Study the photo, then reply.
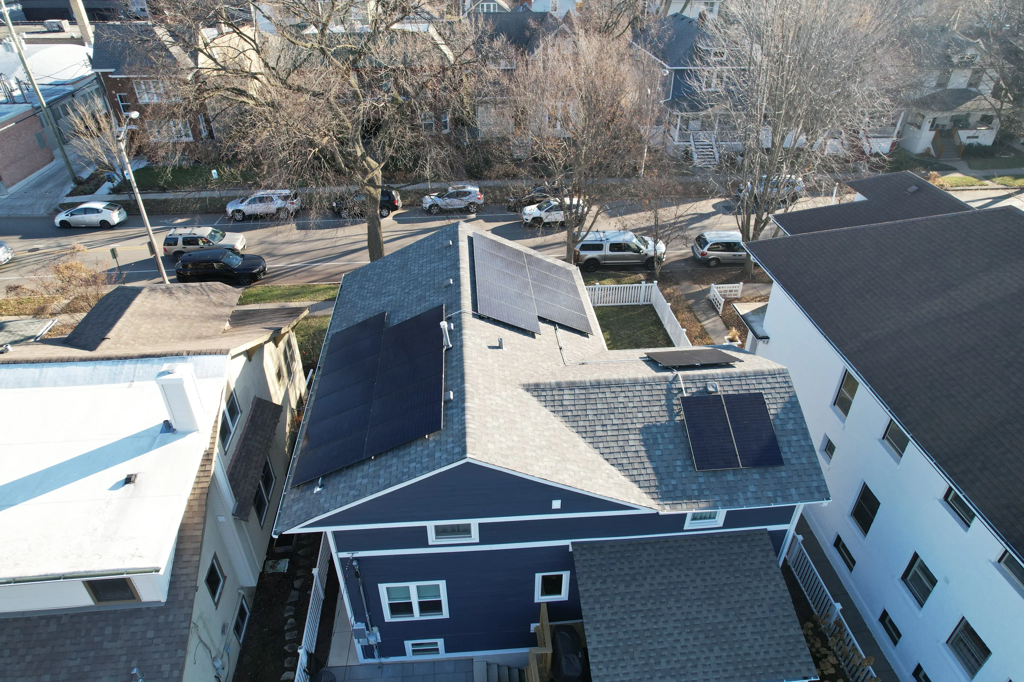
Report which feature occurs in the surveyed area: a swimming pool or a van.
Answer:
van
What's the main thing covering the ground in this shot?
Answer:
buildings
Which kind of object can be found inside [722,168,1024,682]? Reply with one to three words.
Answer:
house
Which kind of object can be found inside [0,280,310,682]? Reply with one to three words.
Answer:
house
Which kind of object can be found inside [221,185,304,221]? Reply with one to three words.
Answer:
car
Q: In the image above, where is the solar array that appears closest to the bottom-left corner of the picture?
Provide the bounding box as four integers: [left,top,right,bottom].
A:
[291,303,445,489]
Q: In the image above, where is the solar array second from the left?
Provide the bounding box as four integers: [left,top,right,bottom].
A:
[472,234,593,336]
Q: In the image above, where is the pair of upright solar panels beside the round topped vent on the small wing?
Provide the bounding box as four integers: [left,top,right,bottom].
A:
[678,393,785,472]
